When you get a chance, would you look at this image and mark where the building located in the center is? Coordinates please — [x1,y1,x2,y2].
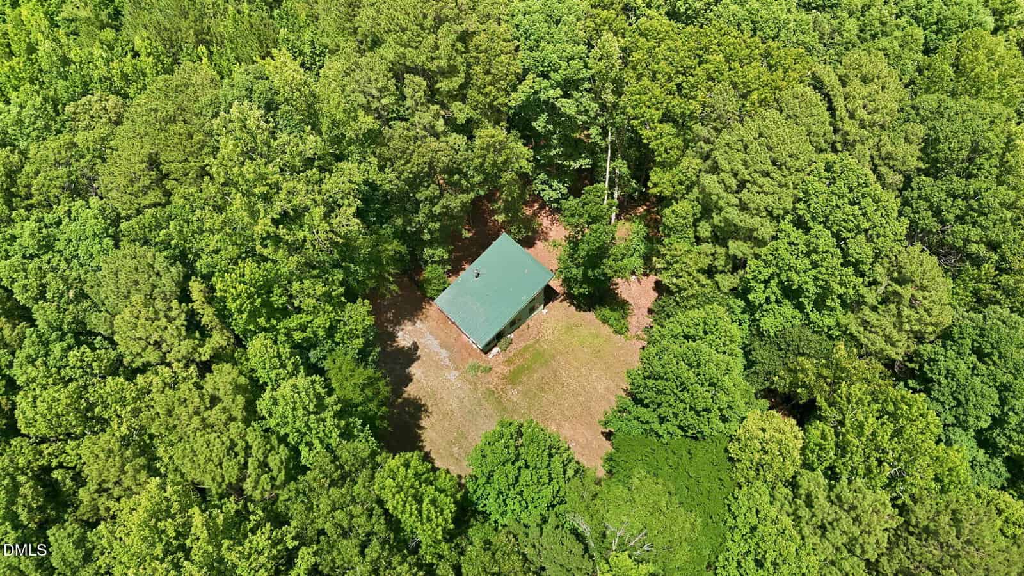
[435,231,555,355]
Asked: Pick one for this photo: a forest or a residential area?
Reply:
forest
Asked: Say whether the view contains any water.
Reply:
No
